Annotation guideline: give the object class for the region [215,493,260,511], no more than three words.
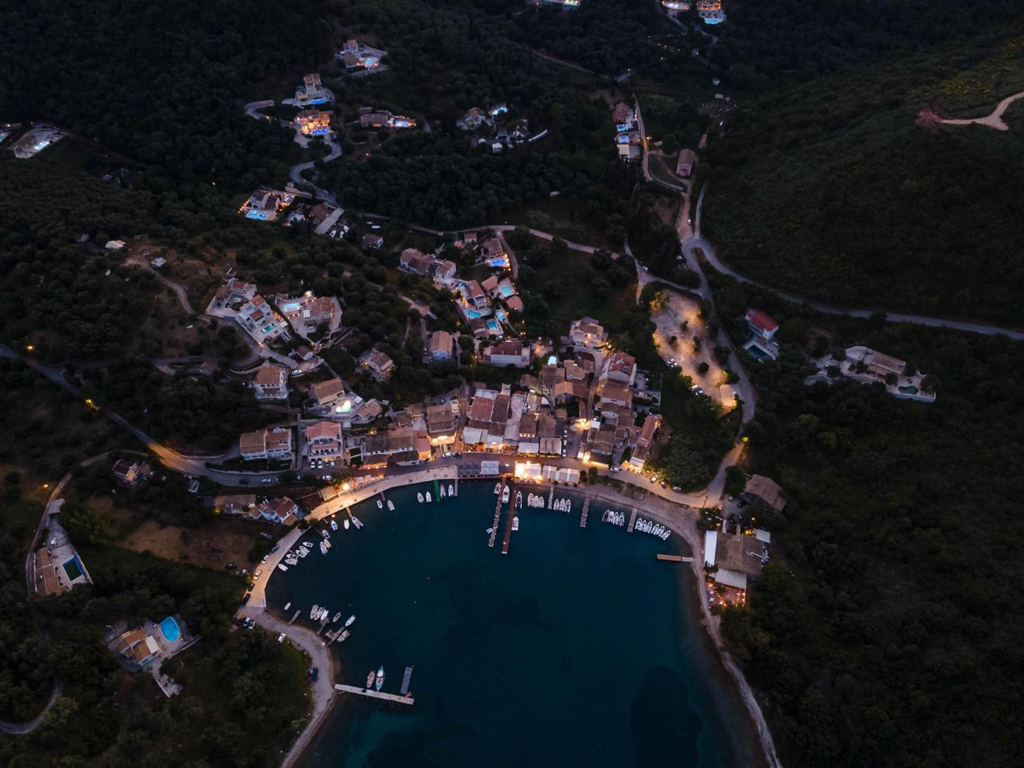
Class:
house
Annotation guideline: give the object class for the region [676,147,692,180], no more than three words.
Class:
building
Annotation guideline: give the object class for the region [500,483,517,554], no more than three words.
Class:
pier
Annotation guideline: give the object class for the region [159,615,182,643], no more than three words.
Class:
swimming pool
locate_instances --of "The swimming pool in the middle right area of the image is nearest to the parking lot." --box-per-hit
[746,344,770,359]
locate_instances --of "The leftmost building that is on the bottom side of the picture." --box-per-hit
[36,546,74,598]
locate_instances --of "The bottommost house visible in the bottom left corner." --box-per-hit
[116,624,166,670]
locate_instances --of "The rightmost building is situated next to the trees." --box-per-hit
[866,350,904,381]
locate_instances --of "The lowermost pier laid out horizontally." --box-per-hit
[333,682,415,707]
